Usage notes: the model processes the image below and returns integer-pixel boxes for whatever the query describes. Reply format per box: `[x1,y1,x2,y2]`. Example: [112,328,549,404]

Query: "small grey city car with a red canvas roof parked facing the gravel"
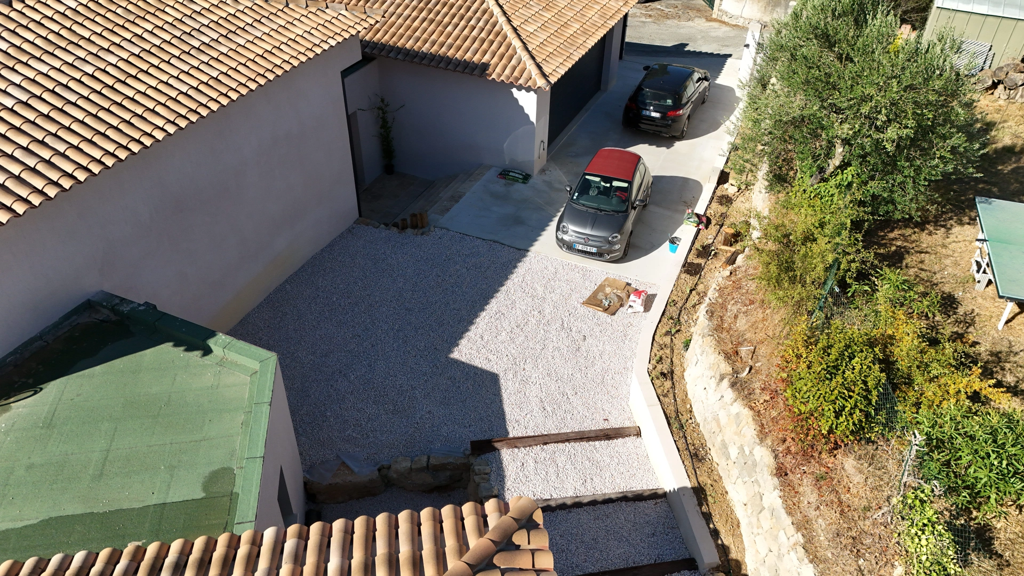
[554,147,657,263]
